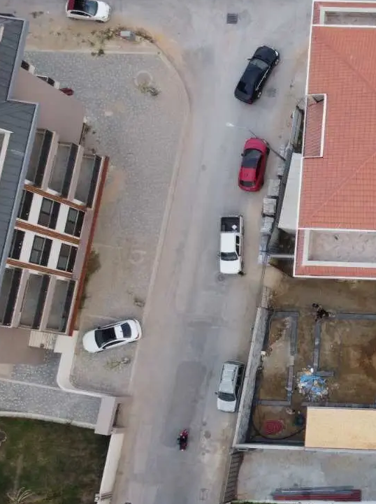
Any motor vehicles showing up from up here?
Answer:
Yes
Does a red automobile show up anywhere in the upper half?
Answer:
Yes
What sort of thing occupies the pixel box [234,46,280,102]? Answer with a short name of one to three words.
car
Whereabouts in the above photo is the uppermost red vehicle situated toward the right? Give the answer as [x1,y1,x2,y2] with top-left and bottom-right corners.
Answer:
[239,138,270,190]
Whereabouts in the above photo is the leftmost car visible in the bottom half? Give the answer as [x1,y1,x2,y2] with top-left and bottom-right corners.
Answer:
[83,319,143,350]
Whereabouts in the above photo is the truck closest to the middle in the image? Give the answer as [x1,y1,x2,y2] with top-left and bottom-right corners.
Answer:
[215,215,246,276]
